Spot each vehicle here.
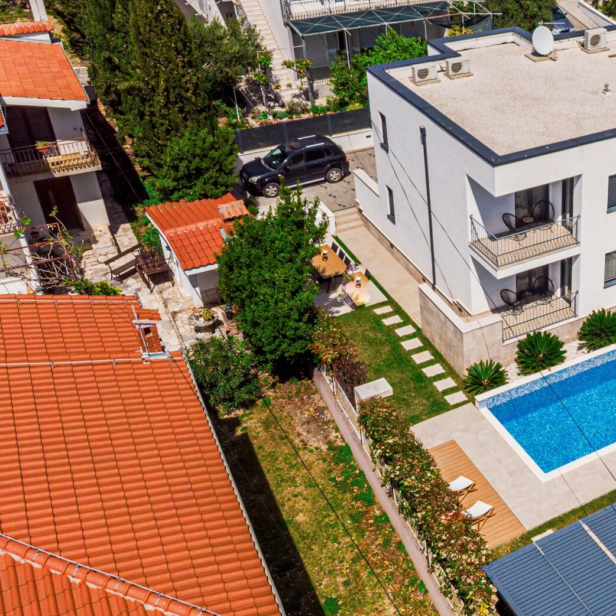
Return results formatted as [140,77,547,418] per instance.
[533,4,581,33]
[238,129,349,194]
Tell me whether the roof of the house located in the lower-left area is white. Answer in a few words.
No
